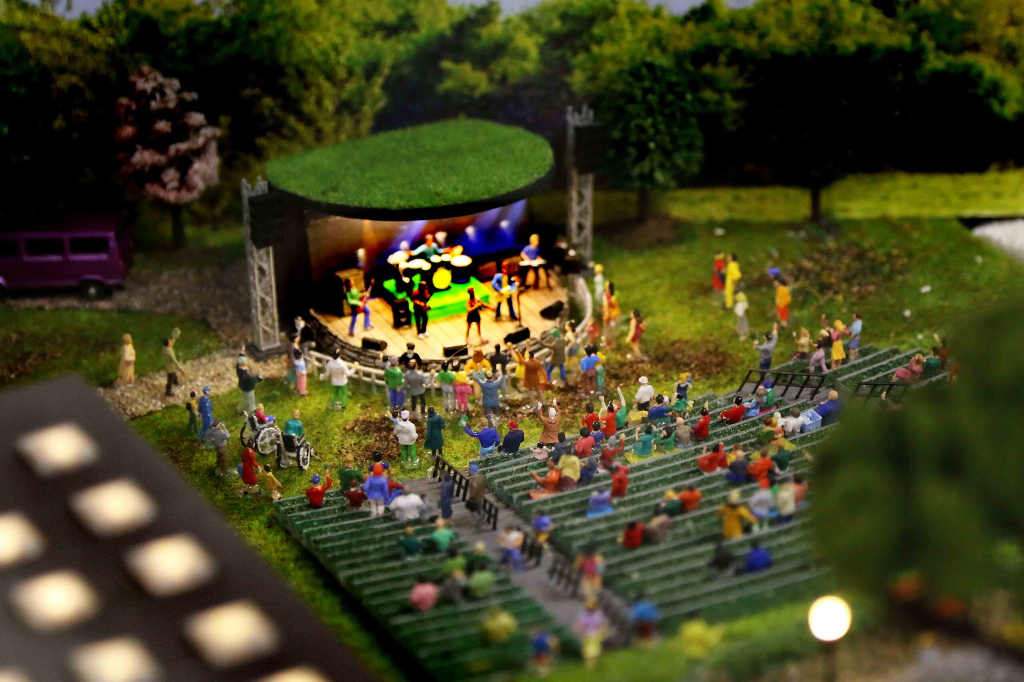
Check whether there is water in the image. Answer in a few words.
No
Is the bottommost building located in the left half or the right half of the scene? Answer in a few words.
left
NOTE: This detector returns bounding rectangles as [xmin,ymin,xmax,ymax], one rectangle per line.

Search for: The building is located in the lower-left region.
[0,374,329,682]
